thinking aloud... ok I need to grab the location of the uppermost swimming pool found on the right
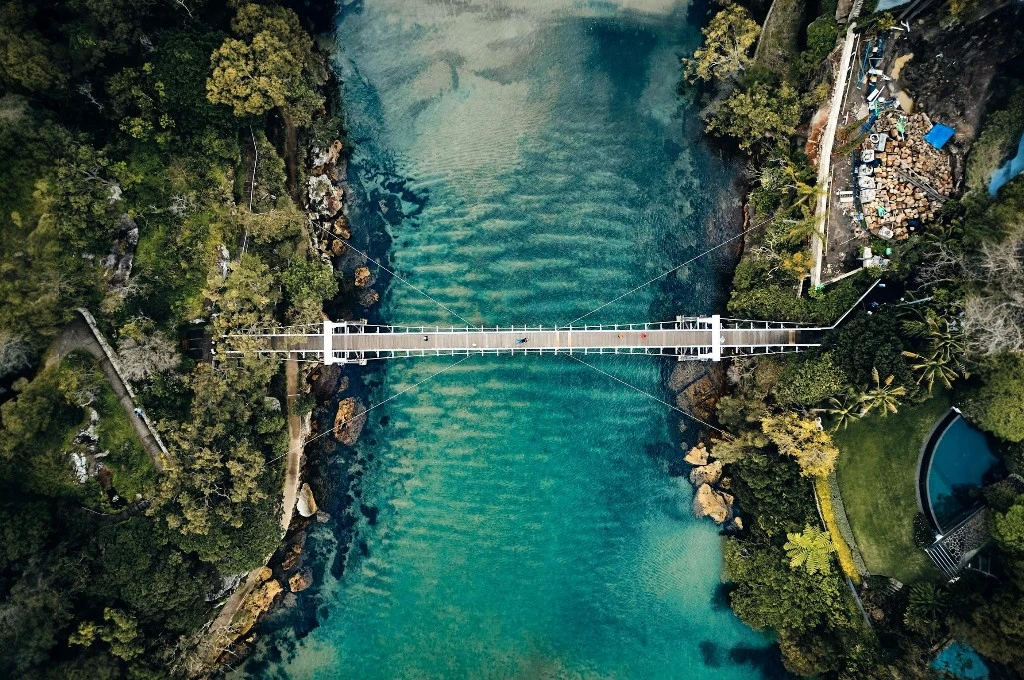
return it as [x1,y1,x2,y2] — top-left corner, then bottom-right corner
[911,404,1013,539]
